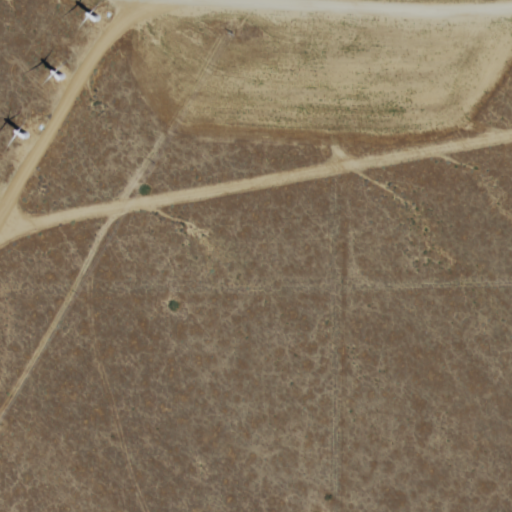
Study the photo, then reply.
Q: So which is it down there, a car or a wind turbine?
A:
wind turbine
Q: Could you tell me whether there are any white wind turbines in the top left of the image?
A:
Yes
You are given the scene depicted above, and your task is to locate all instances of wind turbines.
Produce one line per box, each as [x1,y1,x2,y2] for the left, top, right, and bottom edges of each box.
[76,0,102,26]
[40,59,67,86]
[4,116,31,148]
